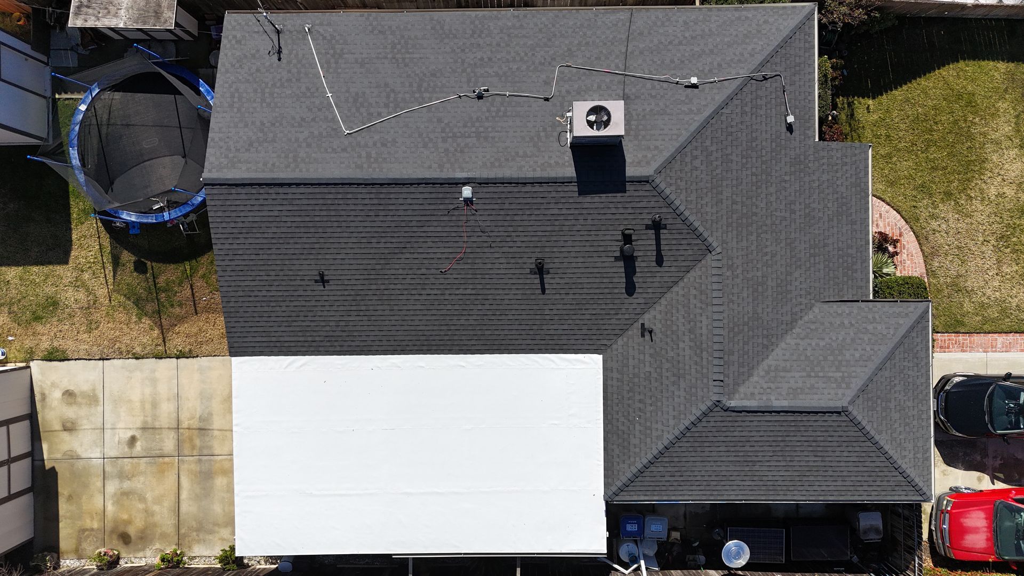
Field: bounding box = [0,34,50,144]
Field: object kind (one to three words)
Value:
shed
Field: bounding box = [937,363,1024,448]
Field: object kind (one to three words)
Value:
car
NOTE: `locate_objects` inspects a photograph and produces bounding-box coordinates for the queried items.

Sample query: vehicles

[924,481,1024,576]
[937,363,1024,448]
